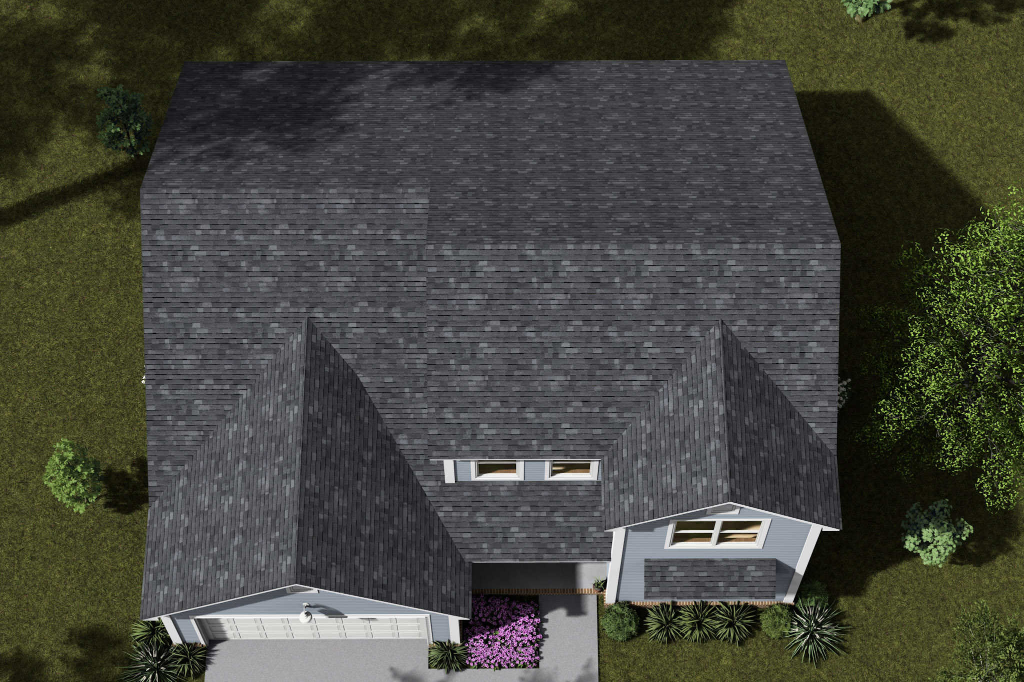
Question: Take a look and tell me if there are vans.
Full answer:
No, the scene contains no van.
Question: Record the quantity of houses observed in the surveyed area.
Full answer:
In total, 1 house can be seen.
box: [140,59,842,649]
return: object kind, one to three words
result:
house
